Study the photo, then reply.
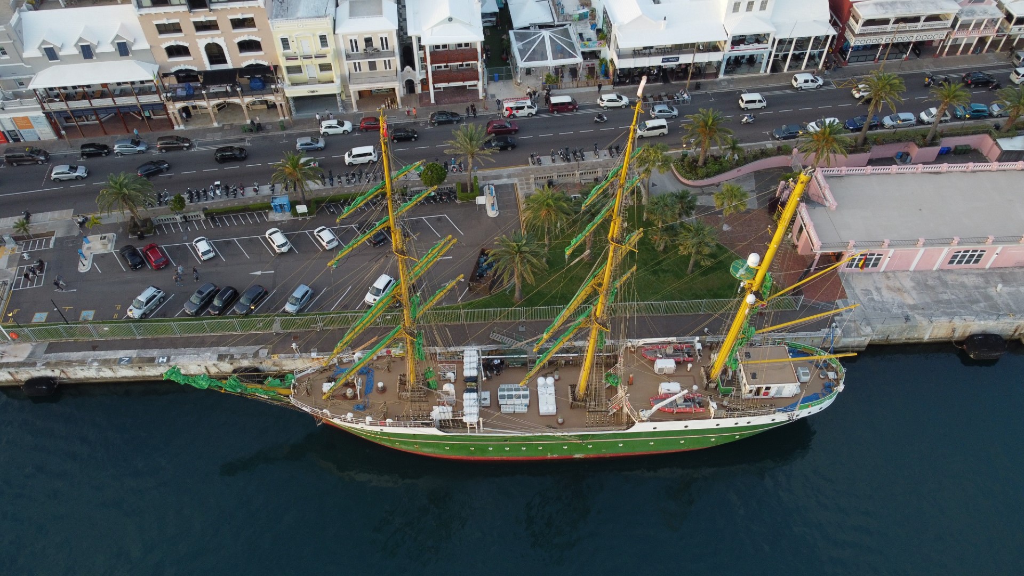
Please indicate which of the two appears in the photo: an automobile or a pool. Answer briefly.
automobile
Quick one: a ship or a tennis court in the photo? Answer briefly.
ship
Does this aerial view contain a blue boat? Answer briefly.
No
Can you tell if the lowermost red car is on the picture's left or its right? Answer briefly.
left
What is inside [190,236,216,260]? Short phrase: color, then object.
white car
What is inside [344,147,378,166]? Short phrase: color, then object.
white car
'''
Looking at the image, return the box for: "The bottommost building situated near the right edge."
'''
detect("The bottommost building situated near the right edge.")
[790,156,1024,275]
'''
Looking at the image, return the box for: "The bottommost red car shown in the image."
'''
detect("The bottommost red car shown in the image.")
[140,242,168,269]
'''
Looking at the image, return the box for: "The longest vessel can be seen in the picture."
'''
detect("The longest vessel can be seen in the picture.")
[162,80,869,460]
